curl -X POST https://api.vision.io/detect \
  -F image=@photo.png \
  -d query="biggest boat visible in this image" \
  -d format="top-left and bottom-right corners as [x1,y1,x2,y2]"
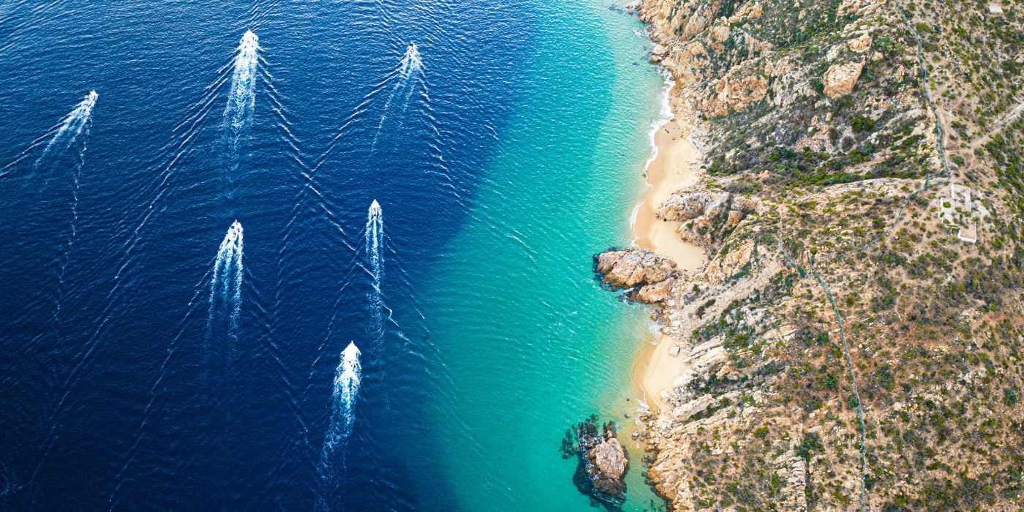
[345,339,357,372]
